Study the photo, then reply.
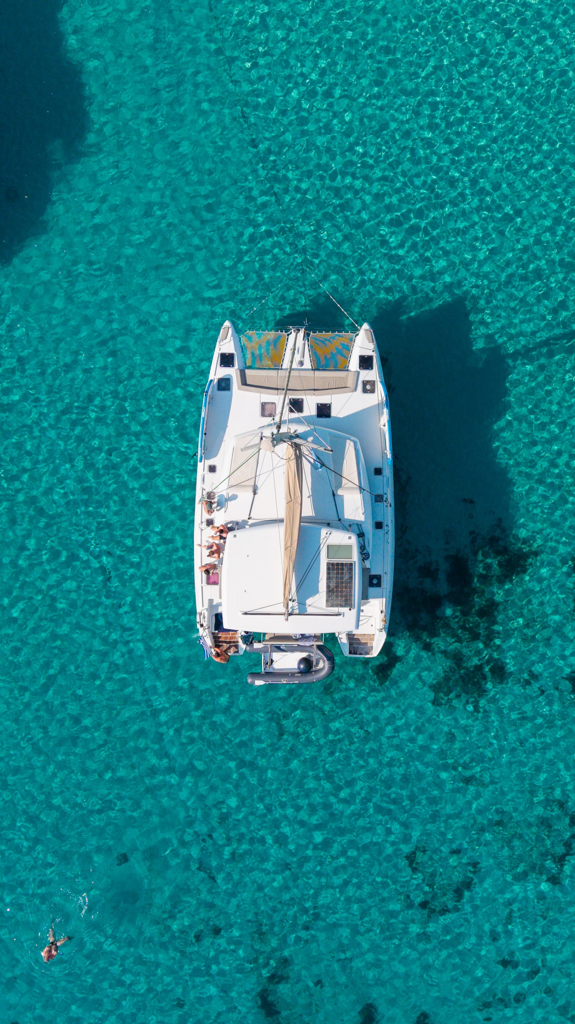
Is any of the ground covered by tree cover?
No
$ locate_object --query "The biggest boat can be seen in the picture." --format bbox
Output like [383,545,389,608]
[194,318,395,669]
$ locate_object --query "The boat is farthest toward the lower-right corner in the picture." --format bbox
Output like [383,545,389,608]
[248,641,335,685]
